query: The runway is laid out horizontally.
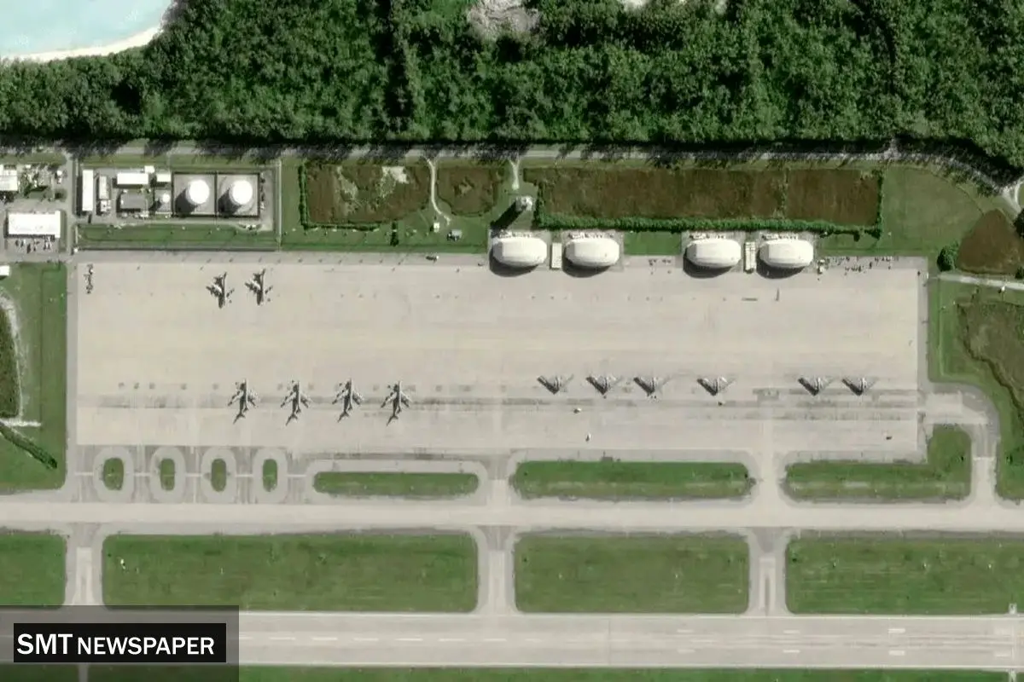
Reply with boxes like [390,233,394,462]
[0,611,1024,670]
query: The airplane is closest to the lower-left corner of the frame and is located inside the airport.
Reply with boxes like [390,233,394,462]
[232,379,262,409]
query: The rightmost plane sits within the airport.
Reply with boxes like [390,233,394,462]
[844,376,880,394]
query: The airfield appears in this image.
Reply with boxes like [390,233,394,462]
[0,252,1024,682]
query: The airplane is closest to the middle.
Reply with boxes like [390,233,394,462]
[539,374,576,392]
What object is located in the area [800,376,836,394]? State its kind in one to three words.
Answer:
airplane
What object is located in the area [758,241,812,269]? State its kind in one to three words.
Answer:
hangar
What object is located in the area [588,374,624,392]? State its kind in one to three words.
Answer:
airplane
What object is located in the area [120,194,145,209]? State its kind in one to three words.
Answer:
building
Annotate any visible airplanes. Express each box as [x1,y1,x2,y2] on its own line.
[588,374,624,392]
[800,376,836,394]
[539,374,576,392]
[284,381,314,412]
[210,277,238,306]
[232,379,262,409]
[385,381,415,411]
[844,376,880,394]
[699,376,735,393]
[337,379,367,408]
[249,274,277,303]
[636,375,672,392]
